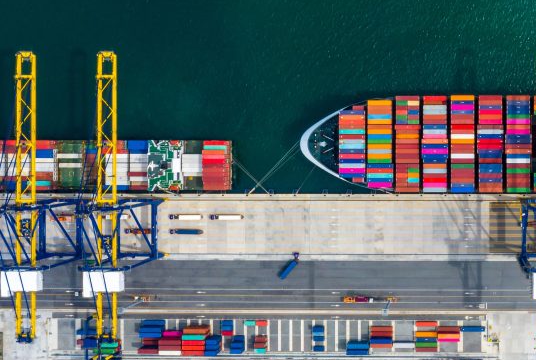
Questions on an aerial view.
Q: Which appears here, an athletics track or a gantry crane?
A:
gantry crane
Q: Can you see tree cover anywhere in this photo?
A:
No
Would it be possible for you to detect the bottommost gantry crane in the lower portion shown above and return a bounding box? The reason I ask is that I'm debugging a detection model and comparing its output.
[84,313,128,360]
